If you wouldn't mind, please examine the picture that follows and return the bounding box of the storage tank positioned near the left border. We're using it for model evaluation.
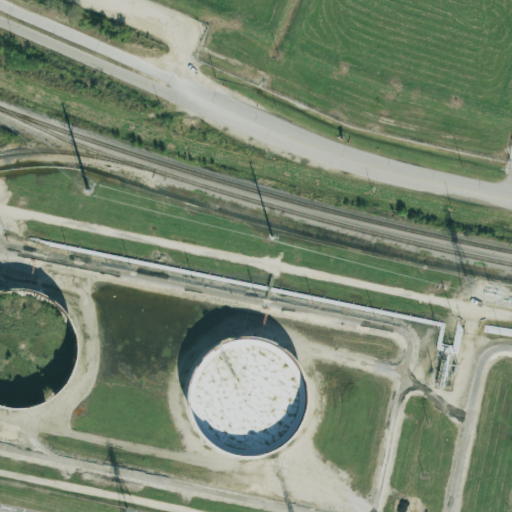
[0,287,79,412]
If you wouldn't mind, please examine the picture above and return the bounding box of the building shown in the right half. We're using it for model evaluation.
[436,348,458,392]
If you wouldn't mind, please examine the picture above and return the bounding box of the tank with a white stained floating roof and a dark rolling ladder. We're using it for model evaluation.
[186,336,310,461]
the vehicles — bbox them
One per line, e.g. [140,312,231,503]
[470,298,482,306]
[188,64,198,75]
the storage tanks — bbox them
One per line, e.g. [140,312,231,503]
[0,287,79,412]
[186,336,310,461]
